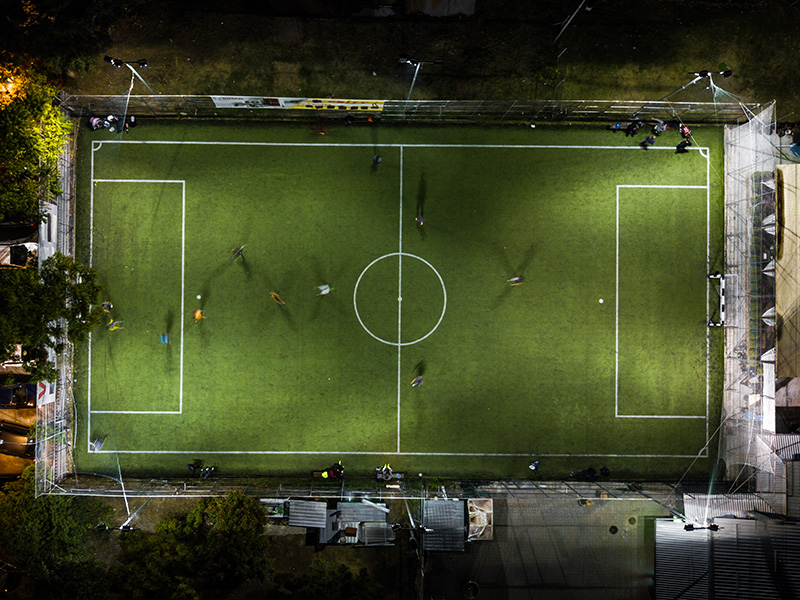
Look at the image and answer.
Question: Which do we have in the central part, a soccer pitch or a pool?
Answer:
soccer pitch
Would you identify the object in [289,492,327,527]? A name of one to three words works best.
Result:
shed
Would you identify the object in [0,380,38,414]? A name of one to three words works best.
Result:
car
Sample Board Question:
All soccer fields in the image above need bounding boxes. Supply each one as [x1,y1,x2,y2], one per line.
[74,120,724,480]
